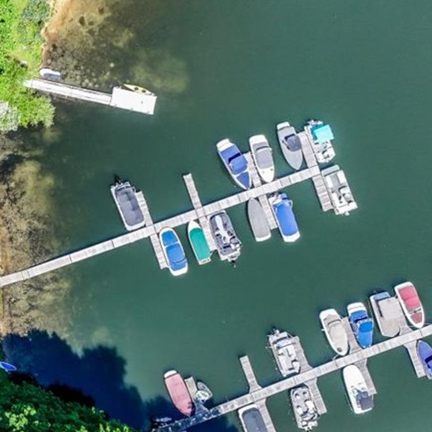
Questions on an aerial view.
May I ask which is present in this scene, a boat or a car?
boat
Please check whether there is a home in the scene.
No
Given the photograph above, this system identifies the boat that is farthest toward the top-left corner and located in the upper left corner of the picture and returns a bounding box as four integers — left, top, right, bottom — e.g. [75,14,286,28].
[40,68,62,81]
